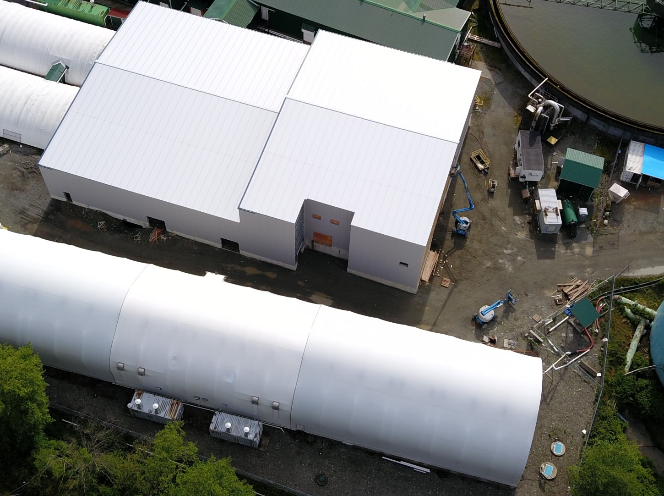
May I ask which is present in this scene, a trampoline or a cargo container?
cargo container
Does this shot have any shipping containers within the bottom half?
Yes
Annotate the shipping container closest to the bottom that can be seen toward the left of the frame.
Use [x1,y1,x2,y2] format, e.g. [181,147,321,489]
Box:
[209,412,264,448]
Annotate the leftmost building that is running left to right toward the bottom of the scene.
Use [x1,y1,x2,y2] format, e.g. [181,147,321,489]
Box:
[0,231,542,488]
